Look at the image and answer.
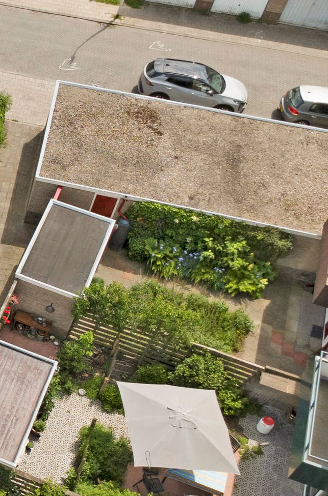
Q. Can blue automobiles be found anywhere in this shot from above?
No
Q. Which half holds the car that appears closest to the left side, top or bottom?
top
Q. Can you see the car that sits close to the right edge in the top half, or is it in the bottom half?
top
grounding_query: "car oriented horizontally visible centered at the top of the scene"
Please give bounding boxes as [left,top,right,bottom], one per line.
[136,55,248,115]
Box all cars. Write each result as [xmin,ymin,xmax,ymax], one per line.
[276,83,328,132]
[136,55,248,115]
